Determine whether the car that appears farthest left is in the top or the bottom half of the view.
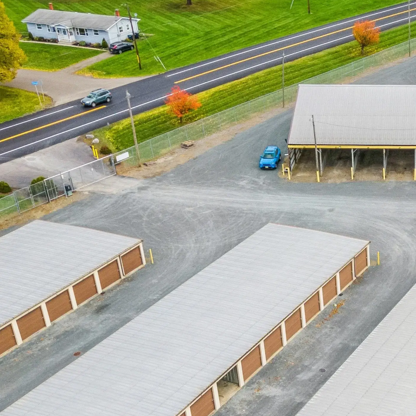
top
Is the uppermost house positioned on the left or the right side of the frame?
left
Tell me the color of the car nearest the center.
blue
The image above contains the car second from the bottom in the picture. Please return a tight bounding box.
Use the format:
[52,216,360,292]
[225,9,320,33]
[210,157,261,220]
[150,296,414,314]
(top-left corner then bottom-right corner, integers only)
[79,87,113,106]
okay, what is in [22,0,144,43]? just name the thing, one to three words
house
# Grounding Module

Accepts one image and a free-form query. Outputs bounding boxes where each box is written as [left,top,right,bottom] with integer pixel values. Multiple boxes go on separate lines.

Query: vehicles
[108,40,134,53]
[79,87,113,106]
[259,145,282,168]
